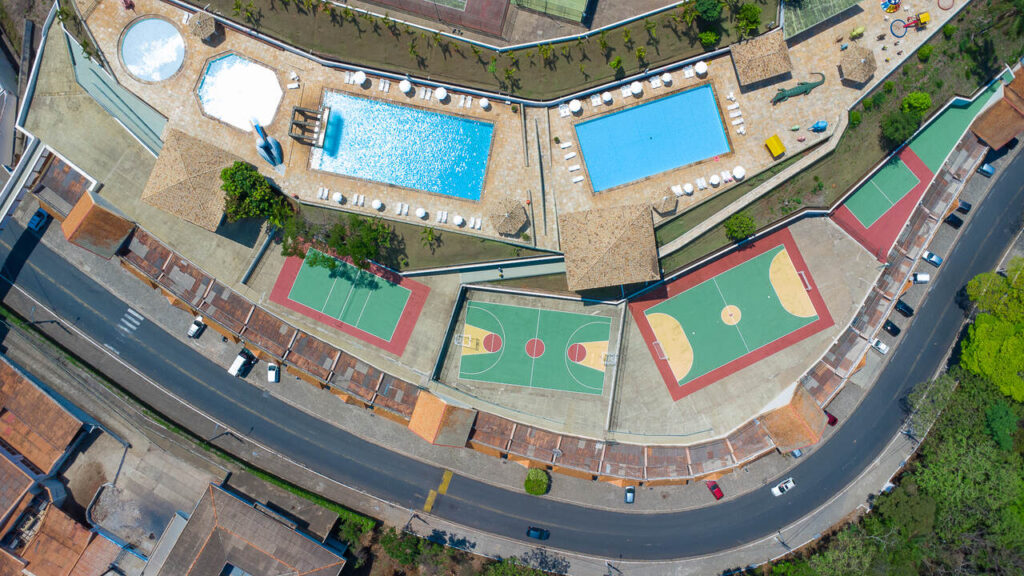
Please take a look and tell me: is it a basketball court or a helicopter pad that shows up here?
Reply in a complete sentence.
The one in the frame is a basketball court.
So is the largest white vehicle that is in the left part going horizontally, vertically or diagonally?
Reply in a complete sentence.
I'd say the largest white vehicle that is in the left part is aligned diagonally in the picture.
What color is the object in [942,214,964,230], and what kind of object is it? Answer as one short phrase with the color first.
black car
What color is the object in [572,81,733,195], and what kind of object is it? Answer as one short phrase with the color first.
blue swimming pool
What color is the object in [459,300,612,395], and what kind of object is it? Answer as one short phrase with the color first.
green basketball court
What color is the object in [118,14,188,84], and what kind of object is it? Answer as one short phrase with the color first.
white swimming pool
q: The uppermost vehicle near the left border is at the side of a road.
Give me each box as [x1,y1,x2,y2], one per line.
[29,209,48,231]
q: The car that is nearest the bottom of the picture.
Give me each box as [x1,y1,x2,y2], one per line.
[527,526,550,540]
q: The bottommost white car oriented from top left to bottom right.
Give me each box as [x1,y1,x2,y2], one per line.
[869,337,891,355]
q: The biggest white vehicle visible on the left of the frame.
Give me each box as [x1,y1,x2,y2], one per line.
[224,350,250,378]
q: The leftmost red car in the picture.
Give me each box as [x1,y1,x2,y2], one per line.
[704,480,723,500]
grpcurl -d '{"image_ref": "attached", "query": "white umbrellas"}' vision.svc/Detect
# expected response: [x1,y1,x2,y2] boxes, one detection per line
[630,82,642,95]
[373,200,383,210]
[602,93,611,103]
[334,192,344,203]
[569,100,581,113]
[453,215,463,225]
[732,167,744,180]
[694,62,707,74]
[682,185,692,195]
[435,88,447,100]
[416,208,426,219]
[708,176,719,187]
[354,72,367,84]
[479,99,489,109]
[399,81,412,93]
